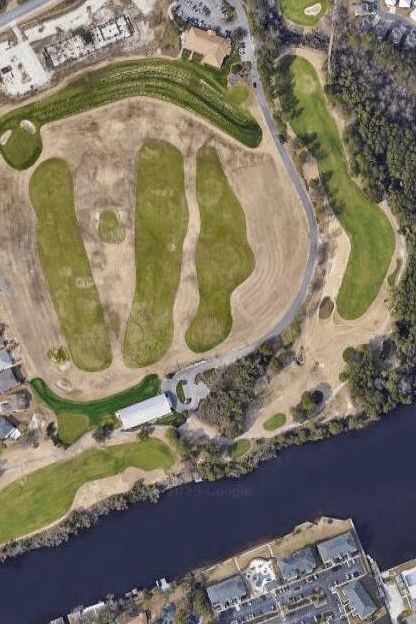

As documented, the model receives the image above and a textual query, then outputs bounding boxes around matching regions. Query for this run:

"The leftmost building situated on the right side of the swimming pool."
[275,548,317,581]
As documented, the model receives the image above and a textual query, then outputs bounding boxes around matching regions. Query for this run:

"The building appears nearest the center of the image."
[115,393,171,430]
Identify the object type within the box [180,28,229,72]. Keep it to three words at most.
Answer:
building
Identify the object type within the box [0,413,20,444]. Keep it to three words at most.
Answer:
house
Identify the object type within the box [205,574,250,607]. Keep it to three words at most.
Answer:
building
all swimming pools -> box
[245,559,276,597]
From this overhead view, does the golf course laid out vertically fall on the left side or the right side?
right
